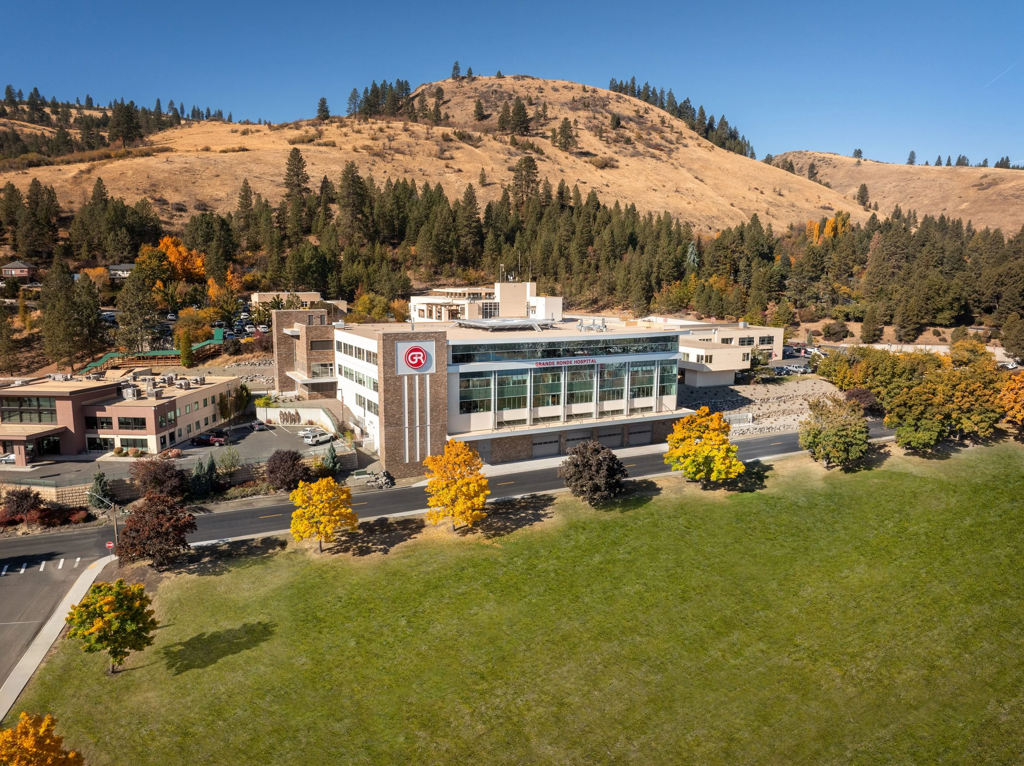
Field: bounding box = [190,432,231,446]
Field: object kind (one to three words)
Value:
vehicle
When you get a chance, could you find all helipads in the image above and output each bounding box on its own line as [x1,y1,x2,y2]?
[438,318,592,337]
